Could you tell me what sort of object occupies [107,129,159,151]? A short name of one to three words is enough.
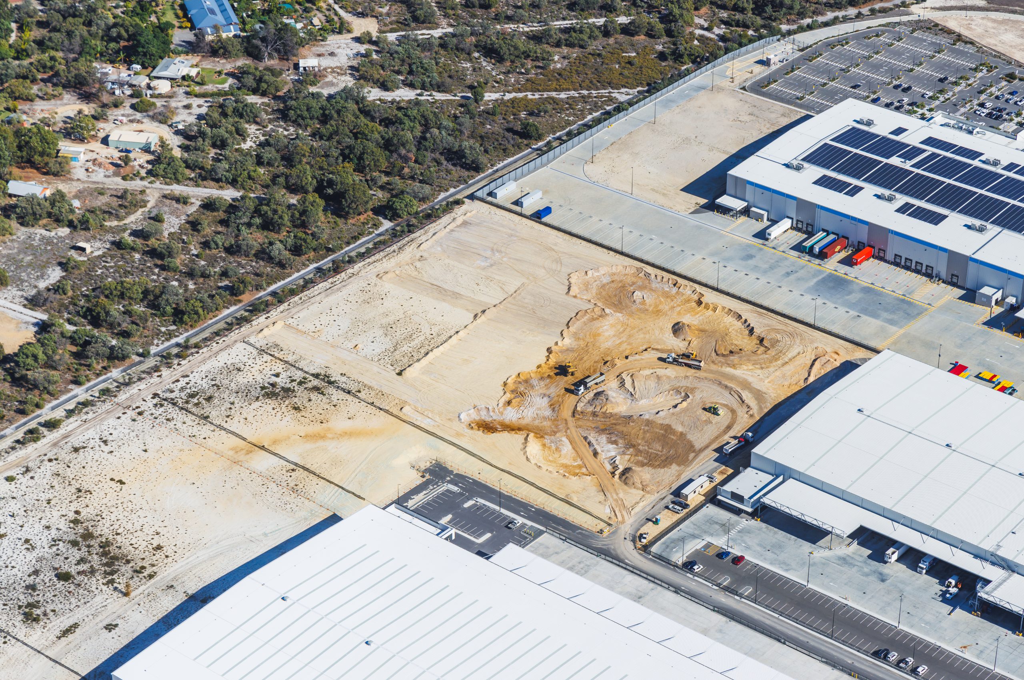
shed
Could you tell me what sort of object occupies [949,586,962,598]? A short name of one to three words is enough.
vehicle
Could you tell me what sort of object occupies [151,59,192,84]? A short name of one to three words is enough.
house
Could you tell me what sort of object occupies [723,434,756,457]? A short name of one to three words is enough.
truck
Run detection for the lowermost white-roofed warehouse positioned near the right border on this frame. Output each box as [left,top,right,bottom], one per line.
[750,349,1024,574]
